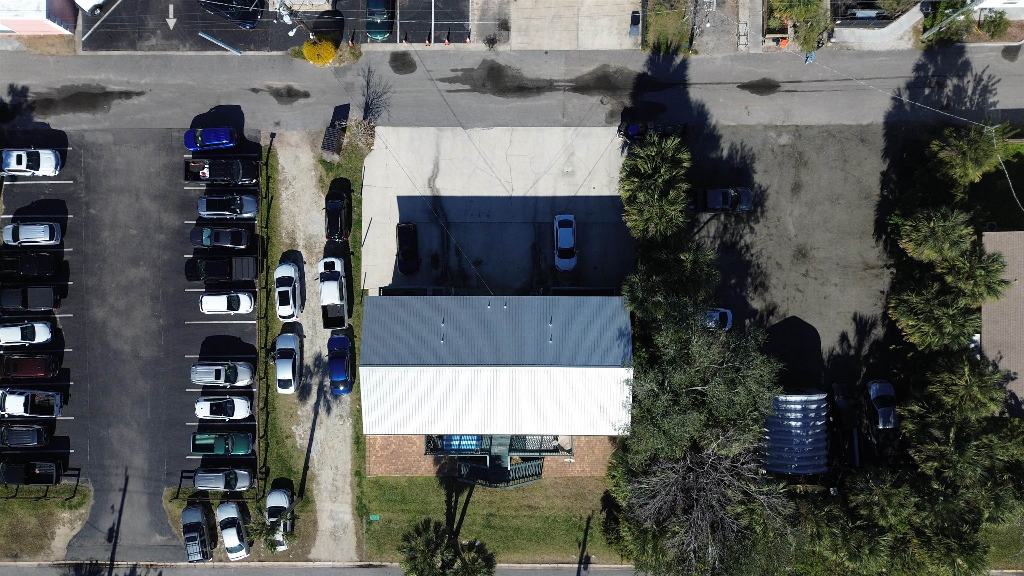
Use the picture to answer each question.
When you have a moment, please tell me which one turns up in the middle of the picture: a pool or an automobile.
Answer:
automobile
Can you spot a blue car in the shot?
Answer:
Yes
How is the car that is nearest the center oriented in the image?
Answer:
vertically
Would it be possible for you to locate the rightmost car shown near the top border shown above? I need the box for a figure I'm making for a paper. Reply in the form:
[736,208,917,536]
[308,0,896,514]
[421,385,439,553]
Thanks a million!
[364,0,392,43]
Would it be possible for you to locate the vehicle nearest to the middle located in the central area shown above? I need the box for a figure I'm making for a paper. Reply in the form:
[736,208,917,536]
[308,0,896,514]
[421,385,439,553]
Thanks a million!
[552,214,580,272]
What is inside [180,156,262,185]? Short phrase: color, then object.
black truck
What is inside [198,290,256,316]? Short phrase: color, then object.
white car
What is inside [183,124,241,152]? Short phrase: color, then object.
blue car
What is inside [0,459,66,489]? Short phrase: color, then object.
black truck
